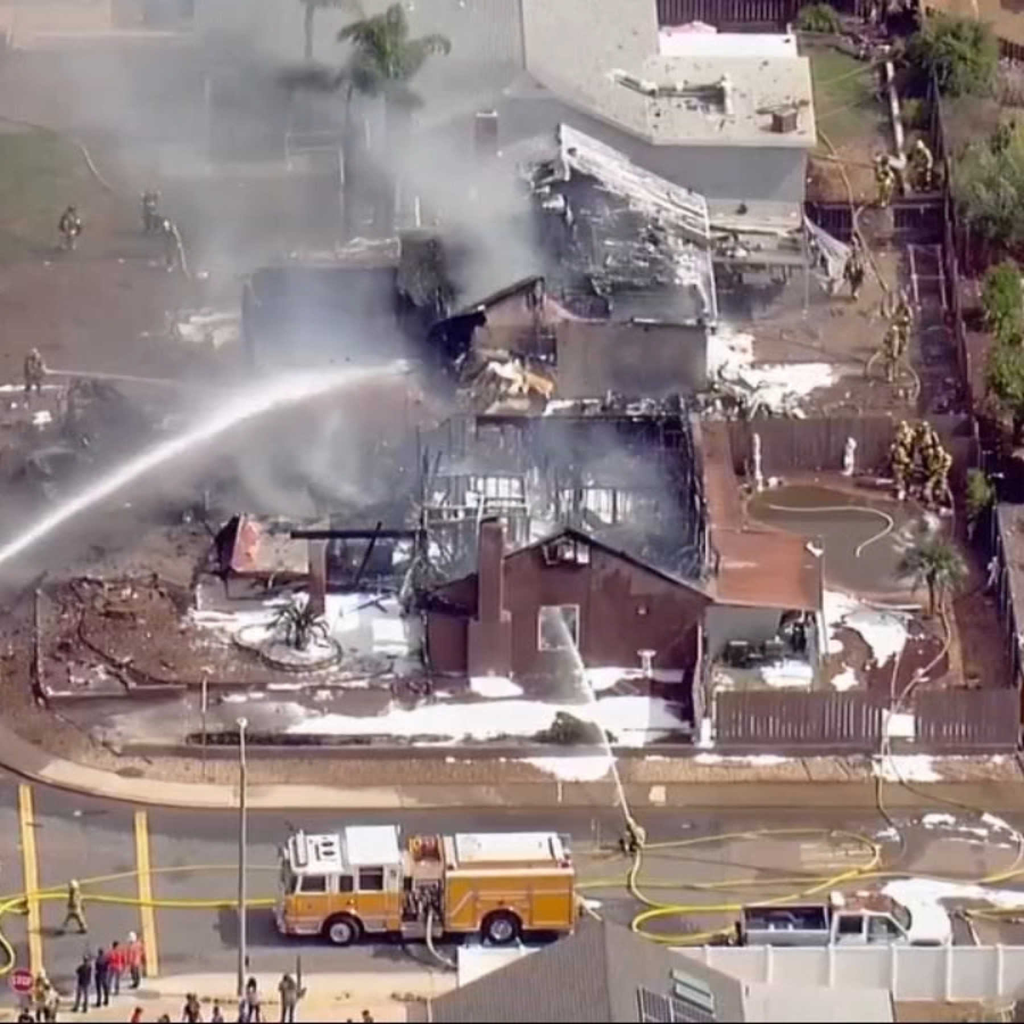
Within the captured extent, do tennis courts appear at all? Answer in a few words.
No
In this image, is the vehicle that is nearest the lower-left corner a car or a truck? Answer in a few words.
truck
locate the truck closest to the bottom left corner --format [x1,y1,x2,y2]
[267,820,583,942]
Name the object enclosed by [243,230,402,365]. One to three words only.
building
